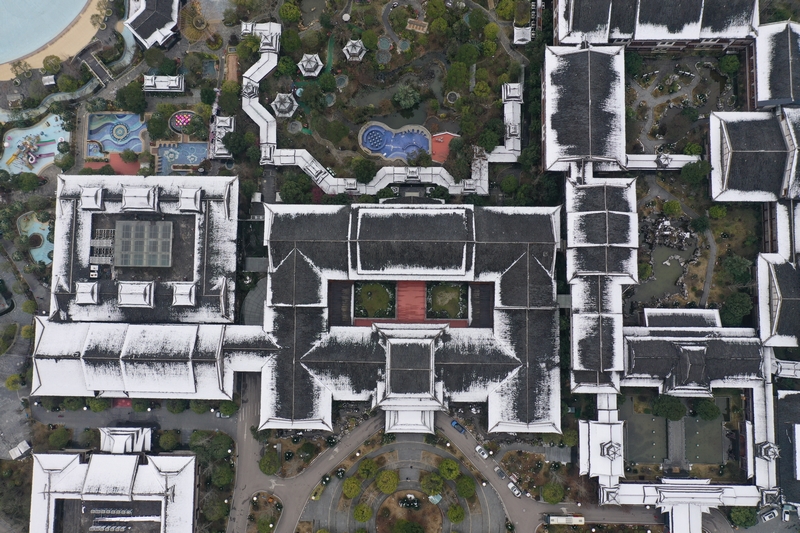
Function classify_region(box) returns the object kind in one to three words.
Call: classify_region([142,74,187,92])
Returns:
building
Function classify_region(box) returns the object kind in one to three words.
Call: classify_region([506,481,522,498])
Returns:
car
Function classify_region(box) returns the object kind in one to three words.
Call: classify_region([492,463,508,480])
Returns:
car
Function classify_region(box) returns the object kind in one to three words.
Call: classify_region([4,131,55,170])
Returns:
playground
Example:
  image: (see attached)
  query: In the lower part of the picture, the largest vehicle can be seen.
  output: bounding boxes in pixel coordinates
[544,510,584,524]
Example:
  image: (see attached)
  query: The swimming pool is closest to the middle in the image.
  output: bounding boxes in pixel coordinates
[356,119,434,164]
